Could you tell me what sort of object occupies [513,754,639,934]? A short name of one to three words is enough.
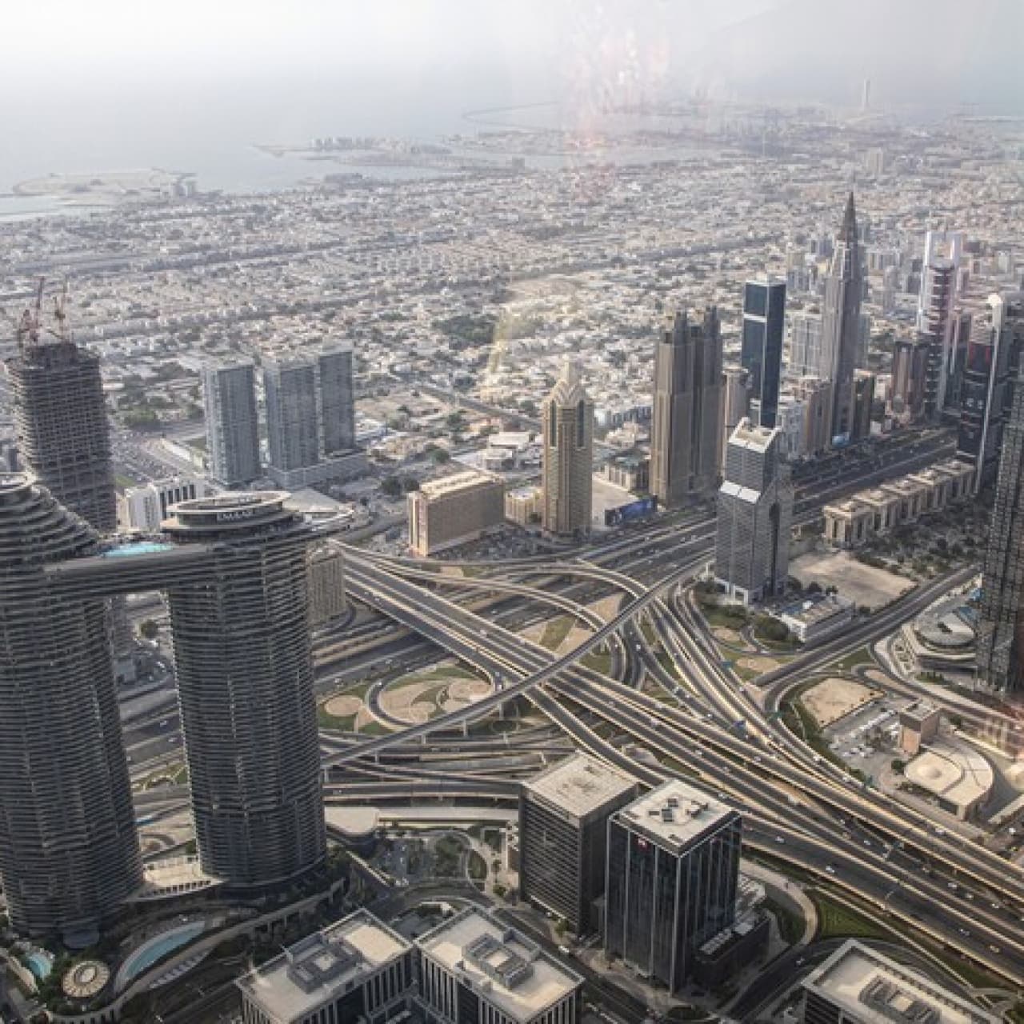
building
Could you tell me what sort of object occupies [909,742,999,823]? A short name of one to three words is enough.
building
